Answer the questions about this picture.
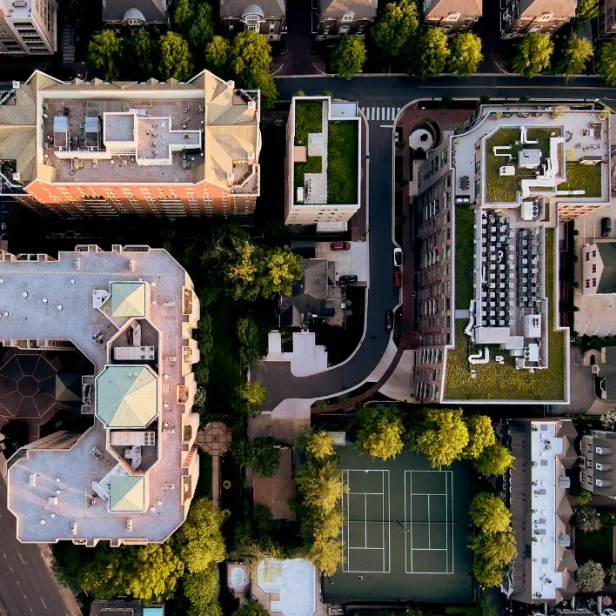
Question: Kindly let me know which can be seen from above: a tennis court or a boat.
tennis court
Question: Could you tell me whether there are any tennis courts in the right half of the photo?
Yes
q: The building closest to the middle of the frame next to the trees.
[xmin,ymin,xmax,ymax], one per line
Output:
[279,259,338,328]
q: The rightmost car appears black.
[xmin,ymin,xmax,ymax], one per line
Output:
[600,216,612,237]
